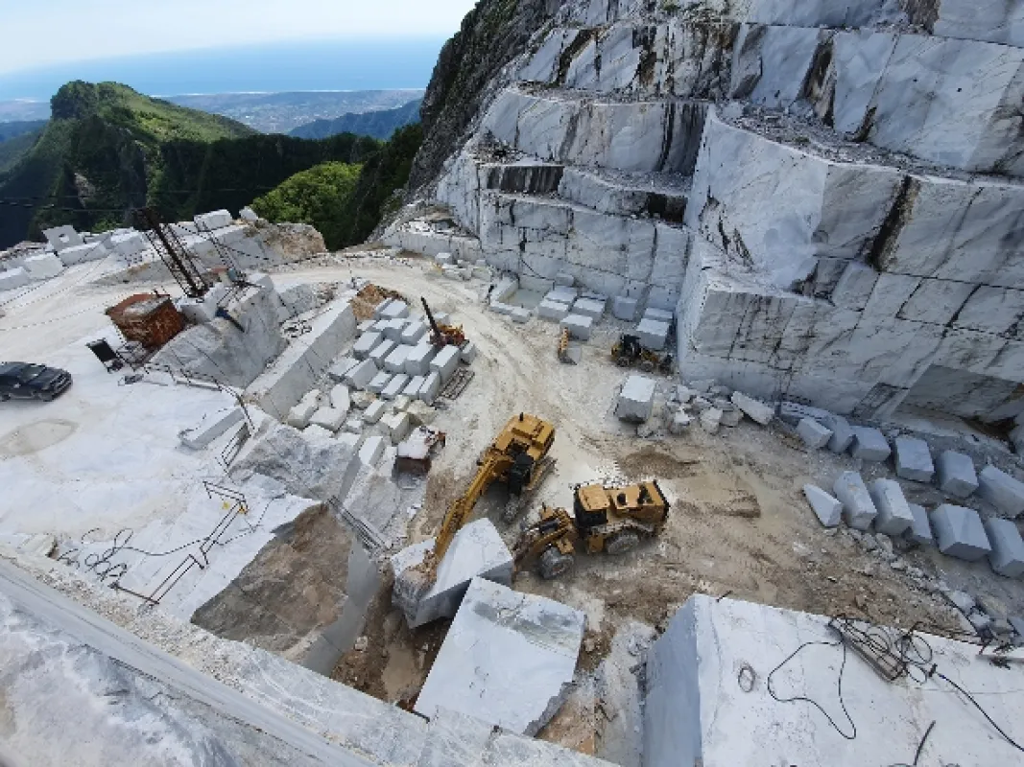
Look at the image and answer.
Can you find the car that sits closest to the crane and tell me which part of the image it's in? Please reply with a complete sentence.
The car that sits closest to the crane sits in the left section of the image.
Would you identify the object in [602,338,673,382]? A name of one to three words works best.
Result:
work vehicle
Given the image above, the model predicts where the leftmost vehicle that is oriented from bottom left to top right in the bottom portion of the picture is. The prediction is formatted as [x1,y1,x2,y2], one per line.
[391,418,559,618]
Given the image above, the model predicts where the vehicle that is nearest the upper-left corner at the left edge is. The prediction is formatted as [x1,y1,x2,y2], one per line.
[0,350,77,406]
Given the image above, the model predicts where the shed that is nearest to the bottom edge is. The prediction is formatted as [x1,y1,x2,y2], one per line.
[104,283,190,349]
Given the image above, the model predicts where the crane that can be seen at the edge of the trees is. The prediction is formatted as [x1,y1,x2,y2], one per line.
[123,198,219,301]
